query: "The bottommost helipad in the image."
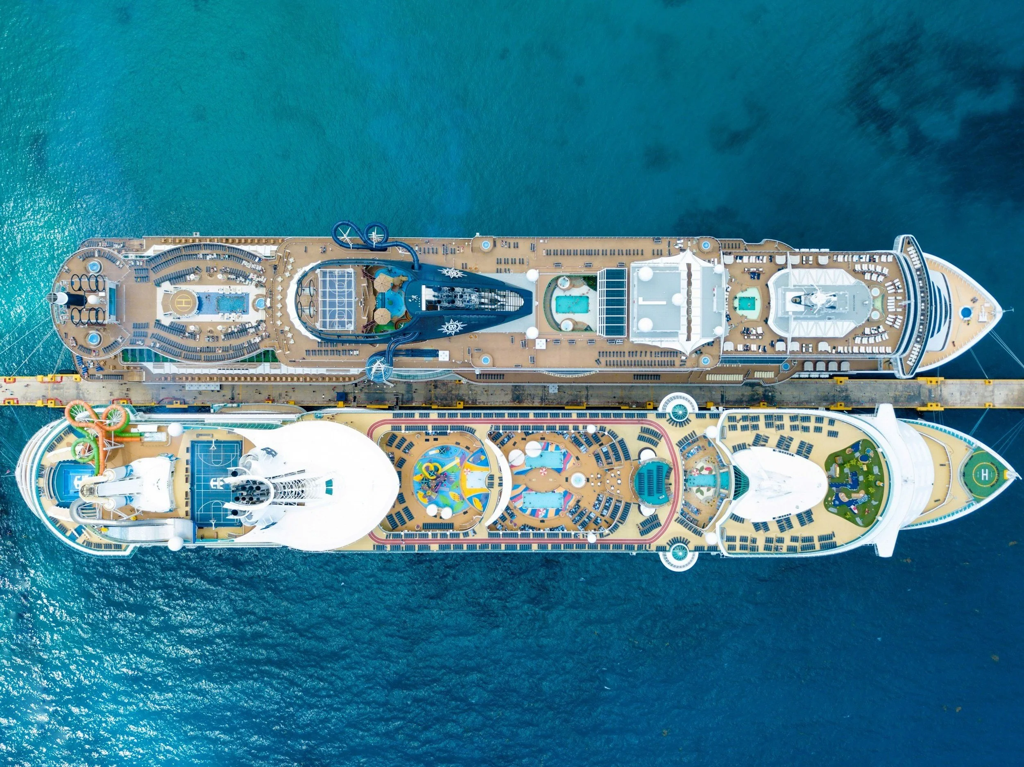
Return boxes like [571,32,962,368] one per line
[956,445,1004,503]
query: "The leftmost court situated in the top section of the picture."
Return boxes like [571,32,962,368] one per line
[319,269,354,330]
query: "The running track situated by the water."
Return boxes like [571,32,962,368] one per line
[368,419,680,545]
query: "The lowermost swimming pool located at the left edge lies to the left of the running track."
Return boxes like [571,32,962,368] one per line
[44,444,103,523]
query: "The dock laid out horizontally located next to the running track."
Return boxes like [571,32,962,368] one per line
[0,374,1024,411]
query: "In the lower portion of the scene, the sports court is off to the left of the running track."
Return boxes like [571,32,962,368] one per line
[190,440,245,530]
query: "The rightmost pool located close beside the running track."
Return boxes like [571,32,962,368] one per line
[688,461,729,500]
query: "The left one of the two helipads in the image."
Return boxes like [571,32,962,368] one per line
[162,286,200,320]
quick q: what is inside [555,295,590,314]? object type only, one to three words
swimming pool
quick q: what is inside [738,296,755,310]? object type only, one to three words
swimming pool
